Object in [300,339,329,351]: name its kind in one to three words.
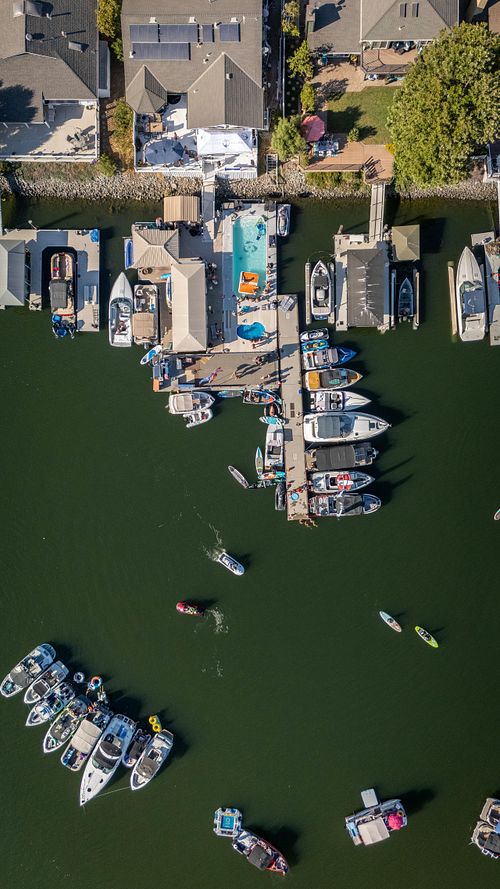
boat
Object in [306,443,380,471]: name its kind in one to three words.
boat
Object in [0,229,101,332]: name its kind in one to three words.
pier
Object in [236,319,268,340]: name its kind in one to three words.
swimming pool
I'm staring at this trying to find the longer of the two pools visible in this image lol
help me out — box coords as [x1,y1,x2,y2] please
[221,203,279,352]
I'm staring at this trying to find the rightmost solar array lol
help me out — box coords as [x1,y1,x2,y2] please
[220,23,240,42]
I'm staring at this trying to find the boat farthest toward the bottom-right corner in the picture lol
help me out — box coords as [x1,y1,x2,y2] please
[464,819,500,864]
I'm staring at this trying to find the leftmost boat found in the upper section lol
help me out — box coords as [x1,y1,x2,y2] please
[49,249,76,330]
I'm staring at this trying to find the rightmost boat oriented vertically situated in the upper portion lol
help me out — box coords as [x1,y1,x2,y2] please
[453,245,486,347]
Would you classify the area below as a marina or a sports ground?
marina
